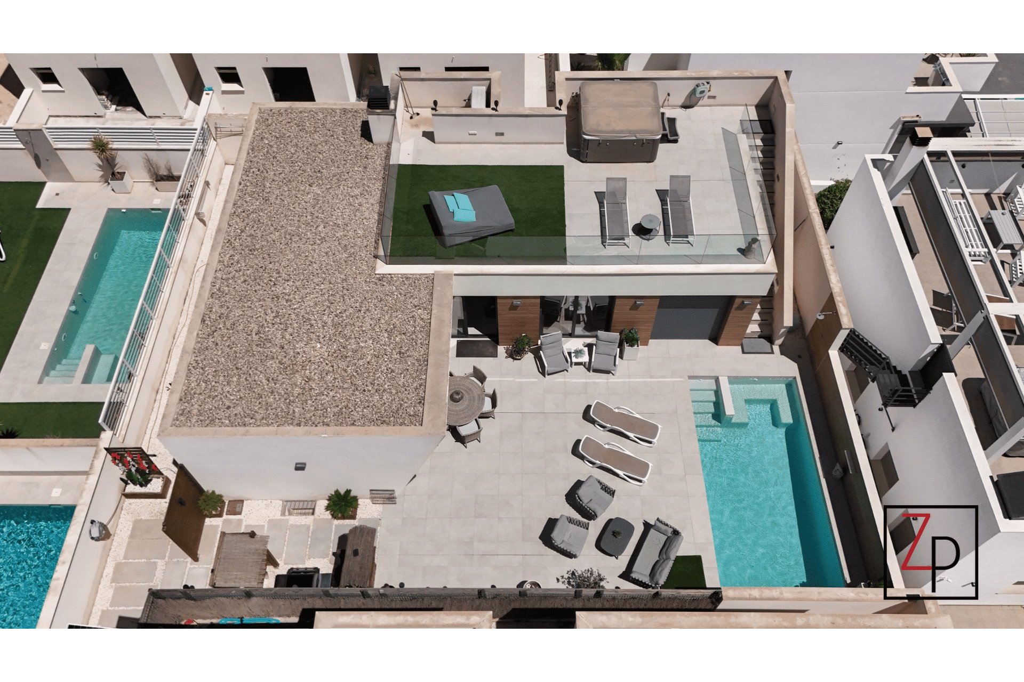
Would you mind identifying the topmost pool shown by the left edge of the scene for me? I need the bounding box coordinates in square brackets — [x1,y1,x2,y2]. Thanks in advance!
[38,209,185,384]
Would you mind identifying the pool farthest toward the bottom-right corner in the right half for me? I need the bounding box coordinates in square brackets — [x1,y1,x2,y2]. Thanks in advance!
[689,375,845,587]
